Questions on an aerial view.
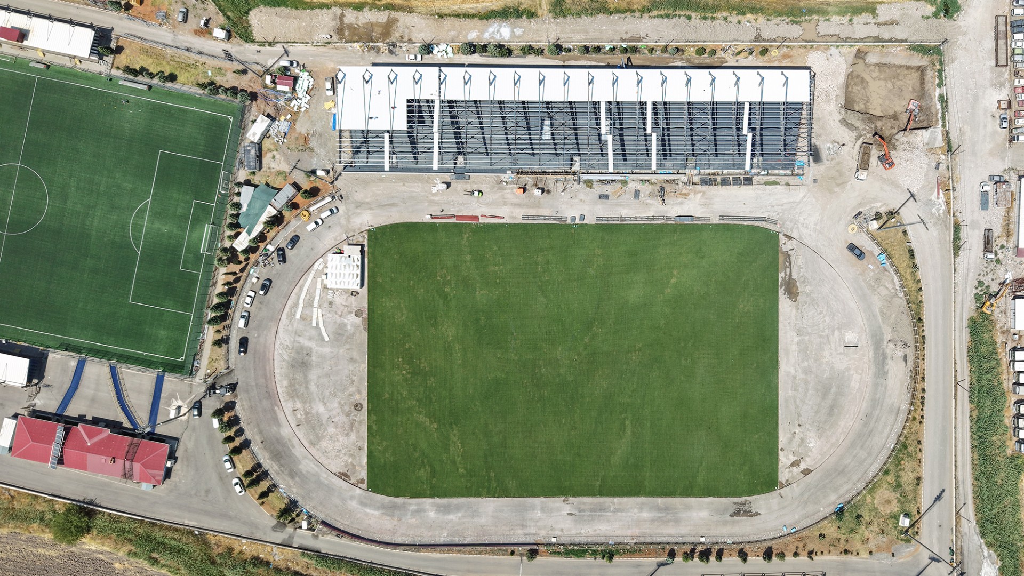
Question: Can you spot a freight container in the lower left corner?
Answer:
No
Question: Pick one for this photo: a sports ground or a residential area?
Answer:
sports ground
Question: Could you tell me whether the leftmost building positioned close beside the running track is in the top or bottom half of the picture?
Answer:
bottom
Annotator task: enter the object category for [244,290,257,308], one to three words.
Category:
vehicle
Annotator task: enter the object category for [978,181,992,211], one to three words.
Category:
vehicle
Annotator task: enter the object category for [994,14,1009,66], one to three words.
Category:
trailer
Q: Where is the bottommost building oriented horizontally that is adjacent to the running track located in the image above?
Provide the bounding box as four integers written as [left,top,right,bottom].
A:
[0,415,172,486]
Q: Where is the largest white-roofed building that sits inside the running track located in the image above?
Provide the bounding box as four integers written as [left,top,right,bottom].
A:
[328,254,363,289]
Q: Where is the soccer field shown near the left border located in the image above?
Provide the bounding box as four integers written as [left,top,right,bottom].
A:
[0,56,243,375]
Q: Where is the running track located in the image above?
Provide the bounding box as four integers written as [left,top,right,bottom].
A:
[226,192,916,545]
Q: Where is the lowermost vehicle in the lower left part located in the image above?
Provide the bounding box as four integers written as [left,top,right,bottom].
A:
[233,477,246,495]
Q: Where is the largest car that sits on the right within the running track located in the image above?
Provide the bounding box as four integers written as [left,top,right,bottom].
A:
[846,243,865,259]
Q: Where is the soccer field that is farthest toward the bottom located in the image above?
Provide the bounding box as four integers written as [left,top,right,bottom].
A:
[366,224,780,497]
